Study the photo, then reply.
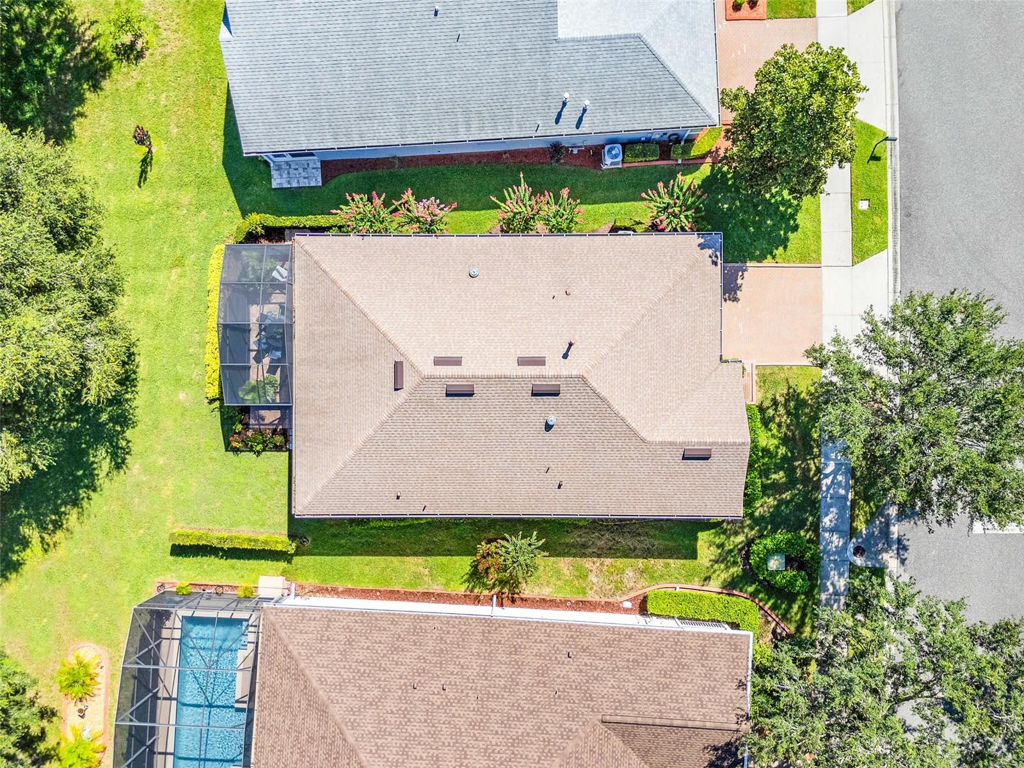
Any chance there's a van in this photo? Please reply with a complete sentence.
No, no van is visible in the scene.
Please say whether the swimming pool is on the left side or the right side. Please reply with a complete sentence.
It is on the left.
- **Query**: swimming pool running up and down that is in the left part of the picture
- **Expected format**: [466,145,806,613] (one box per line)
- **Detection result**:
[175,616,248,768]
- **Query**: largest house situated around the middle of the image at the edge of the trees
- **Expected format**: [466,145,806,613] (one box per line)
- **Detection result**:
[293,234,751,517]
